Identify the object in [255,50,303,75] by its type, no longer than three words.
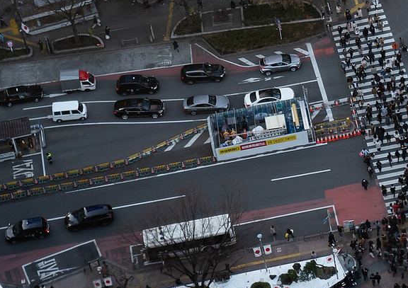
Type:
car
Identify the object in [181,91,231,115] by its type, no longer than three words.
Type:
car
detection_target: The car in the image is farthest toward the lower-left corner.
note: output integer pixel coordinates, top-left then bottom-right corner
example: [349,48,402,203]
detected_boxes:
[2,213,52,241]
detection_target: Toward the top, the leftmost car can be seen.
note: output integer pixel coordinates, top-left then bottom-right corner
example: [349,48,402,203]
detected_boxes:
[0,82,45,106]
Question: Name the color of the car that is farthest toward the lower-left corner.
black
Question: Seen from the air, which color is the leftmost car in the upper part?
black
